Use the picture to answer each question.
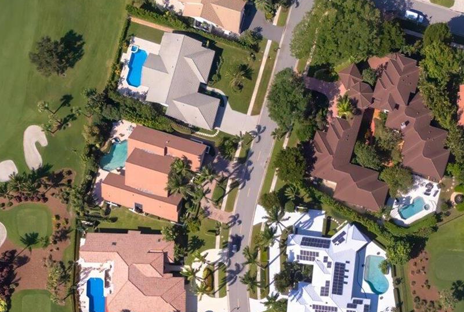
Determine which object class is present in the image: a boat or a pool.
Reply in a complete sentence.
Looking from above, you can make out a pool.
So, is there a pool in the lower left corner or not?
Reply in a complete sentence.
Yes, a pool is visible in the lower left corner.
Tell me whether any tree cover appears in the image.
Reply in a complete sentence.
Yes, some tree cover is visible.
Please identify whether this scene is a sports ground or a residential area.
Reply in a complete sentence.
This image shows a residential area.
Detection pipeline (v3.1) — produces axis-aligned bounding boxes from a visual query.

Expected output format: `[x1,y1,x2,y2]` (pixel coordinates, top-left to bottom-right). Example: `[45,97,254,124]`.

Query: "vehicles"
[231,237,239,253]
[405,8,423,21]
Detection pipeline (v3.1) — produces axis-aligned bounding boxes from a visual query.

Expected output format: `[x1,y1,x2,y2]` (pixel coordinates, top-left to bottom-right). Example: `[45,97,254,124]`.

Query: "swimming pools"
[125,44,150,88]
[100,137,129,172]
[363,254,390,296]
[86,276,106,312]
[397,195,432,220]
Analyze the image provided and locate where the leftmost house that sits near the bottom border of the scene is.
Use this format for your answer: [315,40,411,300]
[75,233,187,312]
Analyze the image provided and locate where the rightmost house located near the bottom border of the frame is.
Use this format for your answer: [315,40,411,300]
[287,224,370,312]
